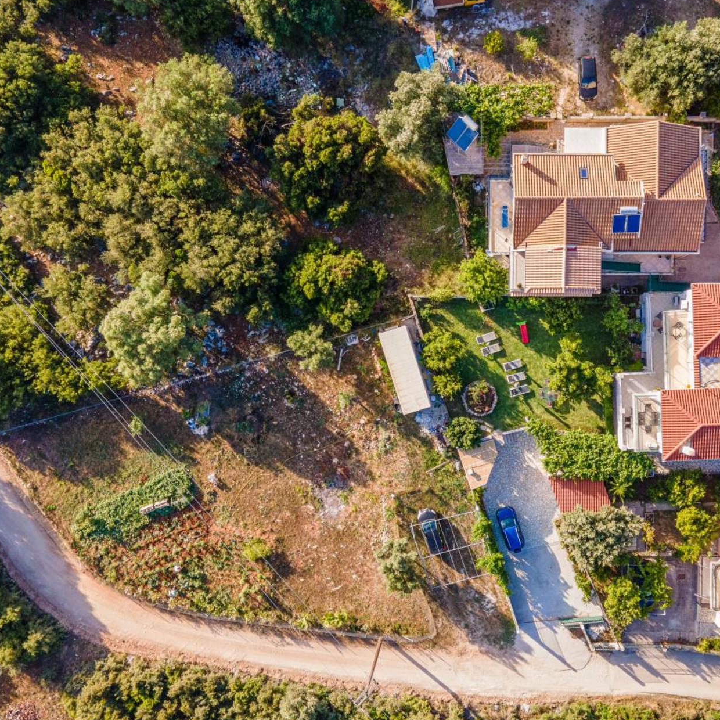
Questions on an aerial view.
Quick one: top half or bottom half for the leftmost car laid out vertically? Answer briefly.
bottom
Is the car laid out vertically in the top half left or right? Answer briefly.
right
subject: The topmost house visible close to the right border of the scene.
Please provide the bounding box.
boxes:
[489,120,706,298]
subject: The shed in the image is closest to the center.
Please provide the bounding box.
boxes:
[379,324,431,415]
